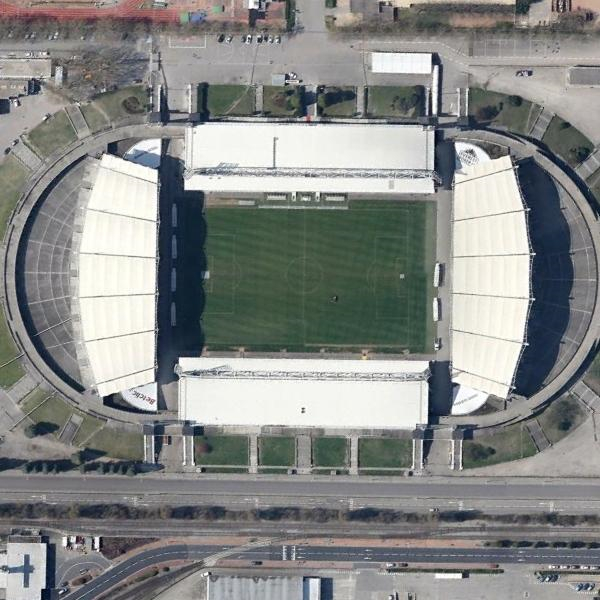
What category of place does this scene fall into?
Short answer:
sports ground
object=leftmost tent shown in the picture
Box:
[372,52,433,74]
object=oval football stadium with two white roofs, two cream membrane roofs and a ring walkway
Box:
[2,84,600,469]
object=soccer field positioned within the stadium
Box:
[182,193,437,357]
